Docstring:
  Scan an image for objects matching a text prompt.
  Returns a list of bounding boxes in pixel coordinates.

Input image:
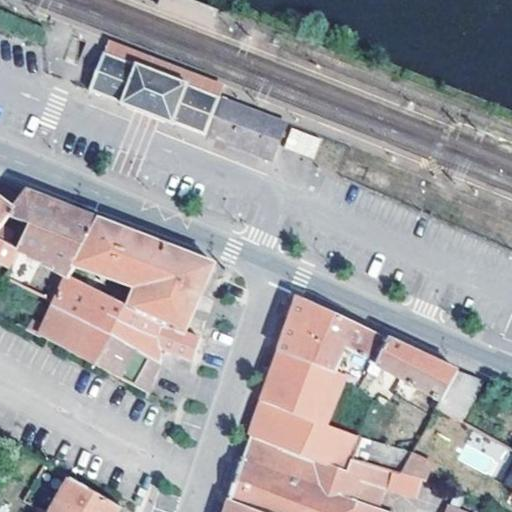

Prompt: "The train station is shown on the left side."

[88,40,223,136]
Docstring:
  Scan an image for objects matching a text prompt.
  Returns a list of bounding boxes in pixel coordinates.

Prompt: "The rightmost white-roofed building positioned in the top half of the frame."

[284,128,322,158]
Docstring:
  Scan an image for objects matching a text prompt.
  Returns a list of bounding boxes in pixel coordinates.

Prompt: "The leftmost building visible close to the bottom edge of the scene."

[47,477,125,512]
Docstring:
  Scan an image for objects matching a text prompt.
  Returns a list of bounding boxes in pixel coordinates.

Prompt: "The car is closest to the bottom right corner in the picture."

[459,298,474,319]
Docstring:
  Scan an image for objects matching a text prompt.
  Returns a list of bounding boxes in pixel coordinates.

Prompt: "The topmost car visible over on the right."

[346,184,358,204]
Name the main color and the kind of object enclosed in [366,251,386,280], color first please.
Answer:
white vehicle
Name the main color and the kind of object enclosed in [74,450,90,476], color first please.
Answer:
white vehicle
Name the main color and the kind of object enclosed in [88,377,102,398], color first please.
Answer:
white car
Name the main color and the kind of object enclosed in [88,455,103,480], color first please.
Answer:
white car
